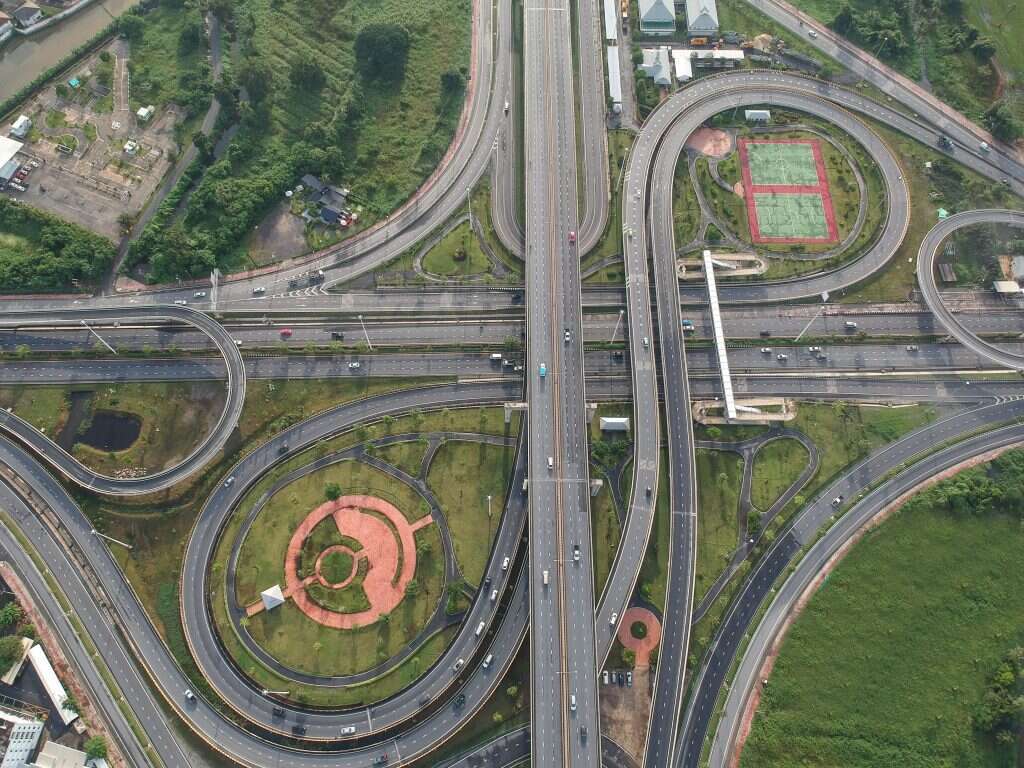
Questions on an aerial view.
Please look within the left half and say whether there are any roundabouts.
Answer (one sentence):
No, there is no roundabout within the left half.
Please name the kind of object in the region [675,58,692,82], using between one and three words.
shed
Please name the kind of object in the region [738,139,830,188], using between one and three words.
sports court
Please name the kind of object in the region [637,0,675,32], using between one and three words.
building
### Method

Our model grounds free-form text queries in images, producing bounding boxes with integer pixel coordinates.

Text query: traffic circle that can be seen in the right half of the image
[617,608,661,668]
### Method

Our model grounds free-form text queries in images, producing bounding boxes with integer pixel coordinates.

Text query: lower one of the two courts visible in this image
[745,188,839,243]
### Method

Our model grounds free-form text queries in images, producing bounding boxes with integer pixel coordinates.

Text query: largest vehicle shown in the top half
[288,268,323,289]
